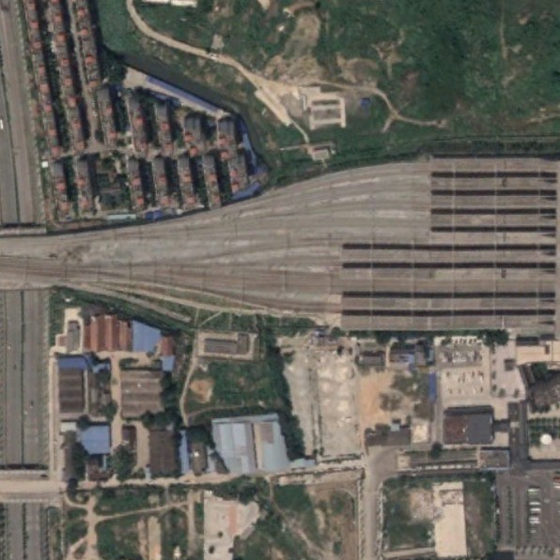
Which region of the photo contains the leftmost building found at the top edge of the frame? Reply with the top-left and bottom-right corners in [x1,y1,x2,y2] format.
[20,0,62,155]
